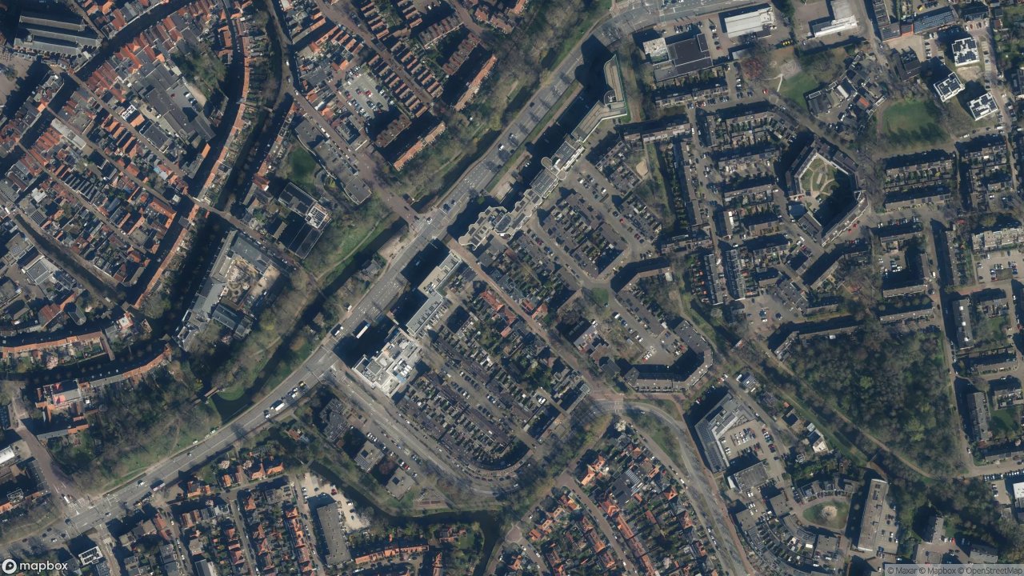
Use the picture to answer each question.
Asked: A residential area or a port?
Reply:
residential area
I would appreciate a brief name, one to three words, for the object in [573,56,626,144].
building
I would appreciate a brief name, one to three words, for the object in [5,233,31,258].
building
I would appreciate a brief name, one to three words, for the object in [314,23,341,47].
house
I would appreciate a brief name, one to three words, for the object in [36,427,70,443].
house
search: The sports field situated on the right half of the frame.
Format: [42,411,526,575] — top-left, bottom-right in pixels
[879,95,937,139]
